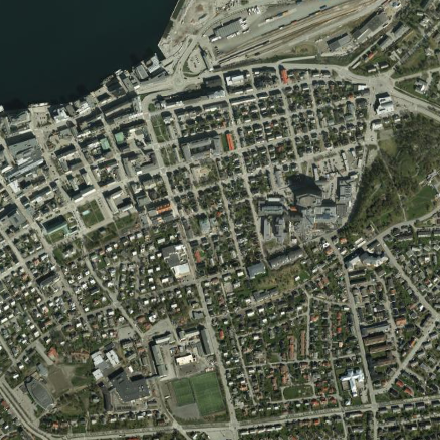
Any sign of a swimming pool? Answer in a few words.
No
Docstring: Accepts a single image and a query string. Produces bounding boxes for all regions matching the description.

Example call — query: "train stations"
[208,0,385,70]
